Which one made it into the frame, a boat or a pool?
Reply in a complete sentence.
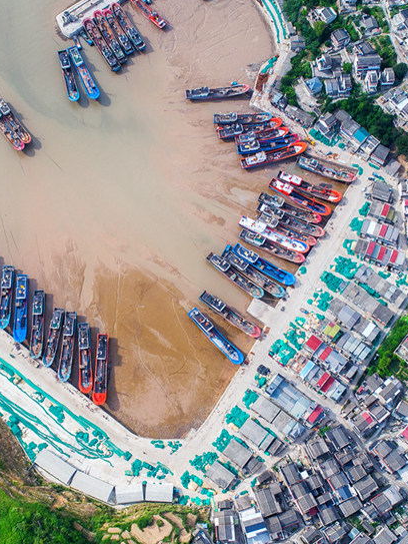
Visible in the photo is a boat.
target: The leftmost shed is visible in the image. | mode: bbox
[35,448,78,483]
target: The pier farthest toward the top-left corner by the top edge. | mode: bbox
[57,0,131,41]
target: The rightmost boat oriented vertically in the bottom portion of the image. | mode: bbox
[95,333,109,404]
